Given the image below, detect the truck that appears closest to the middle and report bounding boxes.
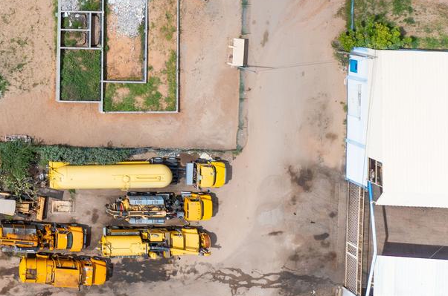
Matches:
[145,158,226,193]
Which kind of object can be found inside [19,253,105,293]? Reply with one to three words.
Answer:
truck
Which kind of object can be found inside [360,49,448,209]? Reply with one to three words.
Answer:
building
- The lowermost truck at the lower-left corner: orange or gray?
orange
